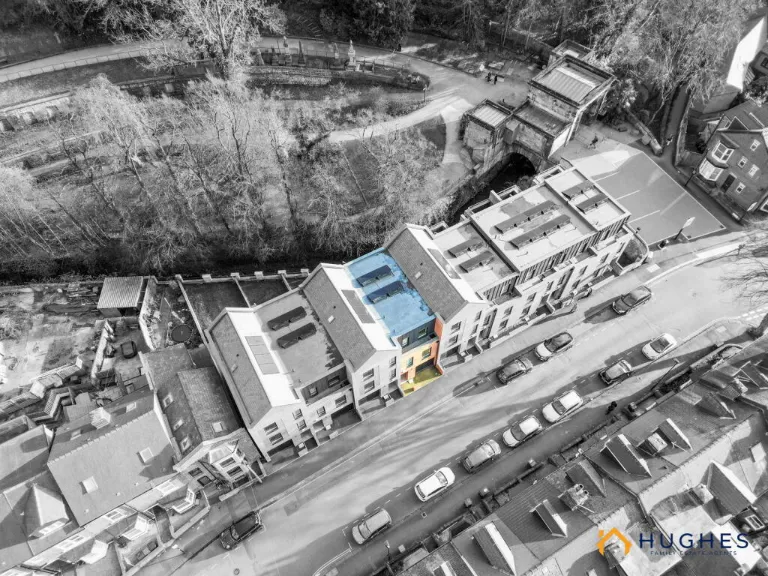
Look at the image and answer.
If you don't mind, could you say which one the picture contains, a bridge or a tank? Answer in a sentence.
Visible in the photo is a bridge.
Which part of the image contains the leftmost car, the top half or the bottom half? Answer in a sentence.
The bottom half of the photo is where the leftmost car is.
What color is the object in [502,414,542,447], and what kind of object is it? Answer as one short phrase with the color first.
white car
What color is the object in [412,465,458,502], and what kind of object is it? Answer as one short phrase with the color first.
white car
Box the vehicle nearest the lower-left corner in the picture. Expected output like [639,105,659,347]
[219,512,267,554]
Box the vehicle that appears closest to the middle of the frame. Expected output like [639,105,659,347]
[496,356,535,385]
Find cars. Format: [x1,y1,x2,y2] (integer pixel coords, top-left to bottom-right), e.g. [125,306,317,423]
[542,389,584,422]
[613,287,652,315]
[496,356,535,385]
[640,332,677,359]
[535,332,574,362]
[350,504,393,543]
[412,465,458,502]
[597,358,634,386]
[219,512,267,554]
[460,437,503,472]
[502,414,542,447]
